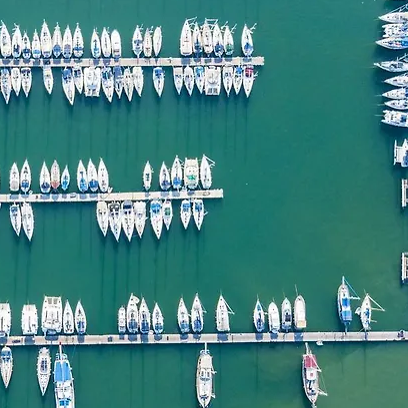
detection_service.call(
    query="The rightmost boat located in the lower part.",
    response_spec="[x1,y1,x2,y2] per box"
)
[360,294,388,336]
